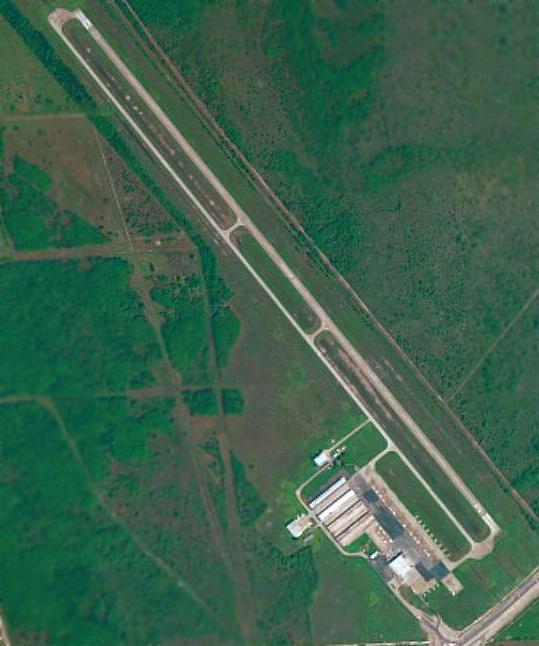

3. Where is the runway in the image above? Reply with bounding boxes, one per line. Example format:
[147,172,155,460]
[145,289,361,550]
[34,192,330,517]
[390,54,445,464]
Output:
[74,9,502,535]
